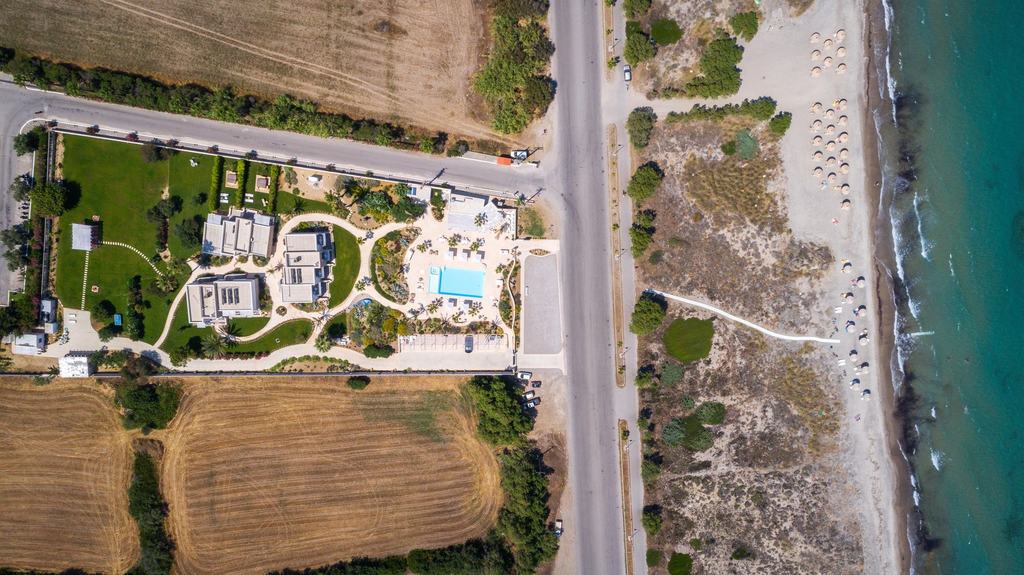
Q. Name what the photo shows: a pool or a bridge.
pool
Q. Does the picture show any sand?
Yes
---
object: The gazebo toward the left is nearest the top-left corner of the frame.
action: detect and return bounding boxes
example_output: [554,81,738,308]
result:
[71,222,98,250]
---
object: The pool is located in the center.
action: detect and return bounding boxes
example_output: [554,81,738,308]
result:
[428,264,486,299]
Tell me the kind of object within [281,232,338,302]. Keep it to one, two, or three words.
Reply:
house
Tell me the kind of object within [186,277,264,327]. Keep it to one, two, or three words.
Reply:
house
